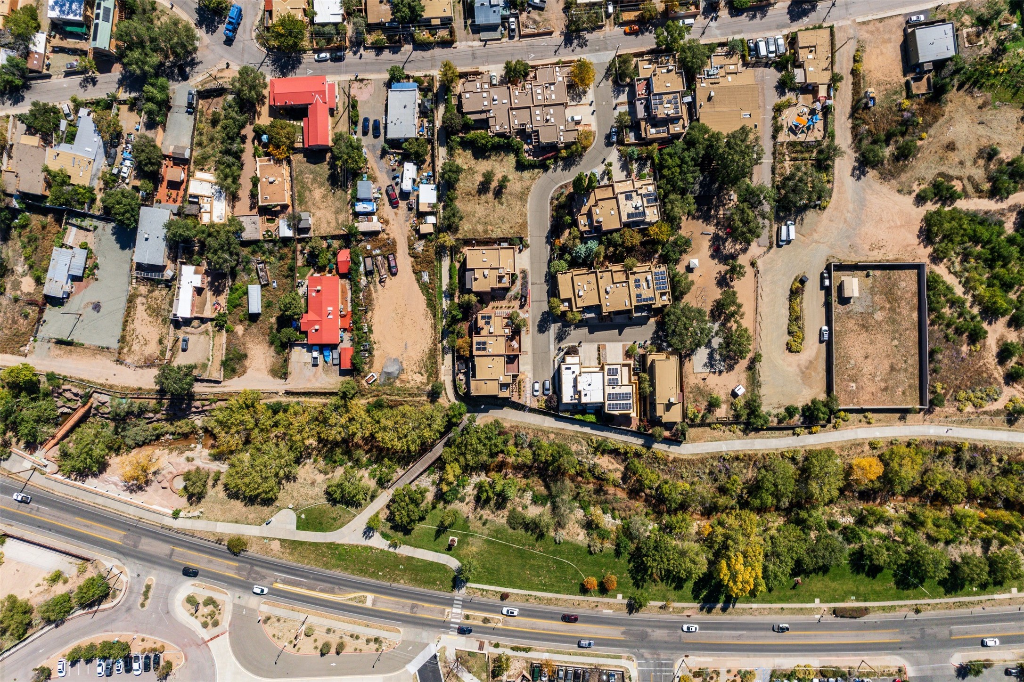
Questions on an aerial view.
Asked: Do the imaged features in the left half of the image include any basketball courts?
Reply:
No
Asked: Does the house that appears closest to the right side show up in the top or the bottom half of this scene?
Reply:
top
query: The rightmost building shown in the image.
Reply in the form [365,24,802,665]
[902,19,956,71]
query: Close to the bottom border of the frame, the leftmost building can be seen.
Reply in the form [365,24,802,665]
[407,642,446,682]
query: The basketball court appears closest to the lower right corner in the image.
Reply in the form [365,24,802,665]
[693,346,729,373]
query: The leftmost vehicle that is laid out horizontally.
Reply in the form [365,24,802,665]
[13,492,33,504]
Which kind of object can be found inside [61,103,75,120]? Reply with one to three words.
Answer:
car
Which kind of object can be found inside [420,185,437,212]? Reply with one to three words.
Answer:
building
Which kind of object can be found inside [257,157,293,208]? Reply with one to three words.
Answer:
house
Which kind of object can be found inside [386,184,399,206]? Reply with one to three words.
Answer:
vehicle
